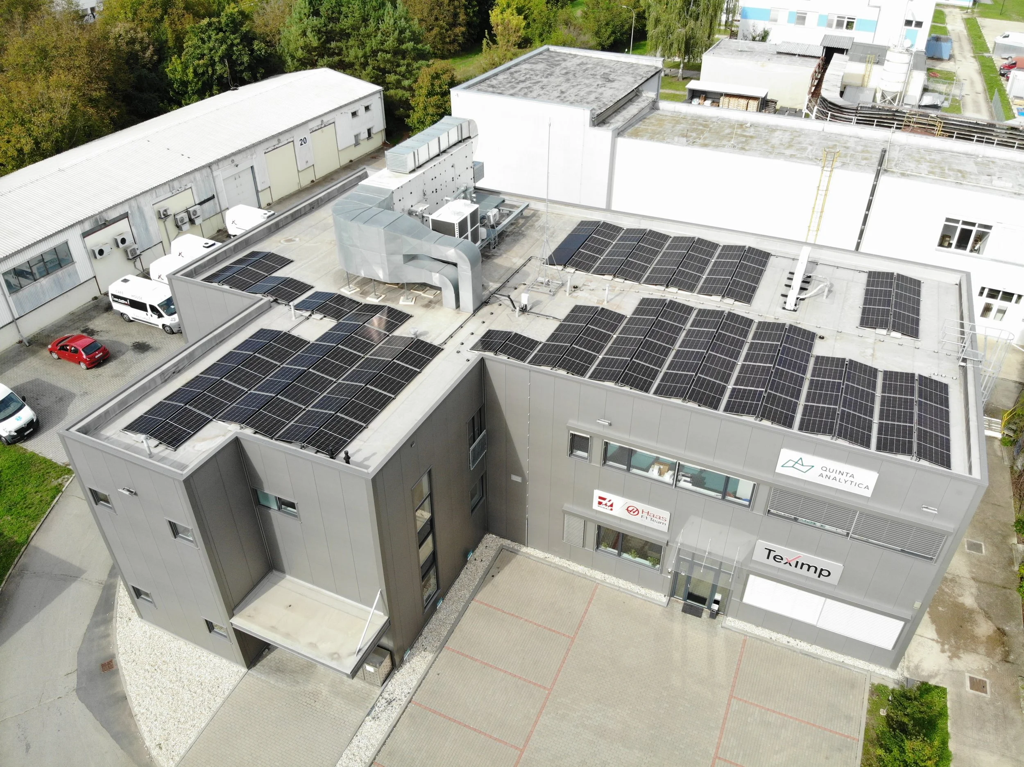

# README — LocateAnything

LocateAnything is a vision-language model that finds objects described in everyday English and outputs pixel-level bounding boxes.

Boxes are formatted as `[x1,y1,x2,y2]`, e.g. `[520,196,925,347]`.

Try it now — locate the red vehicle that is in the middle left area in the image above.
[45,333,113,369]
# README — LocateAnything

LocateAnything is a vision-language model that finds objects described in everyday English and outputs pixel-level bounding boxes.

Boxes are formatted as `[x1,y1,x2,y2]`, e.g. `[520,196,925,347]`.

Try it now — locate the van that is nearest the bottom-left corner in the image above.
[0,391,42,445]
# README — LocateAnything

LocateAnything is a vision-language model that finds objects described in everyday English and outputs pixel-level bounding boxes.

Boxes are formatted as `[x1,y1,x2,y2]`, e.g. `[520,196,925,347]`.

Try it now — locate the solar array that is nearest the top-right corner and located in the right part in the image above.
[857,272,922,342]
